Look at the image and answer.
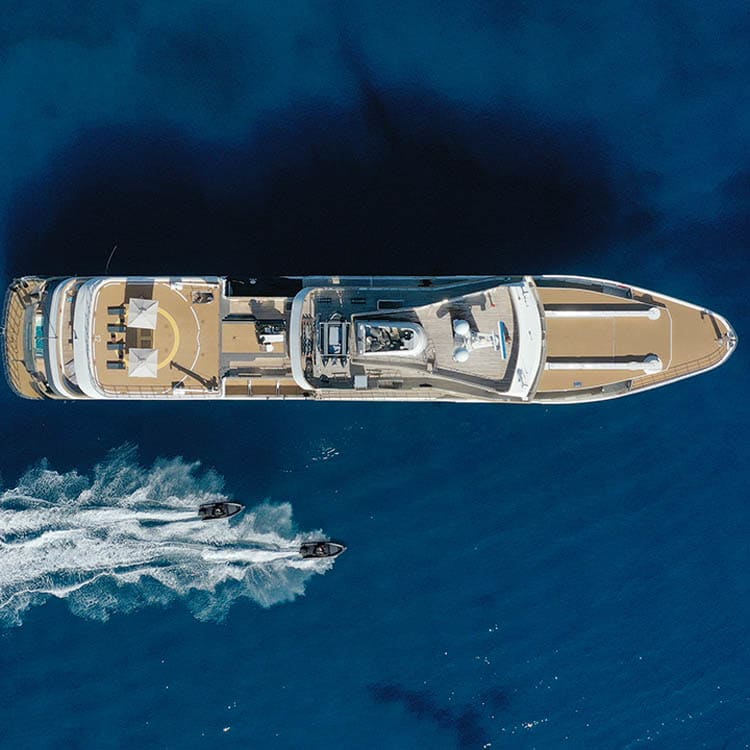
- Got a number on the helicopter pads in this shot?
1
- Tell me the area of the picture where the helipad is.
left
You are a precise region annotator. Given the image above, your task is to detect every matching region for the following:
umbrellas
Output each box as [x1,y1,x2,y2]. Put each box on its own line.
[129,348,159,378]
[130,298,160,328]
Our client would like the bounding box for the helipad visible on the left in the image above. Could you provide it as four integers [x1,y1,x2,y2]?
[94,282,219,394]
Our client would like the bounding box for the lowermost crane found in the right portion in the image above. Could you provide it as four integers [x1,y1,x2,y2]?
[545,357,662,374]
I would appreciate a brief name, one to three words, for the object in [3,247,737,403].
boat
